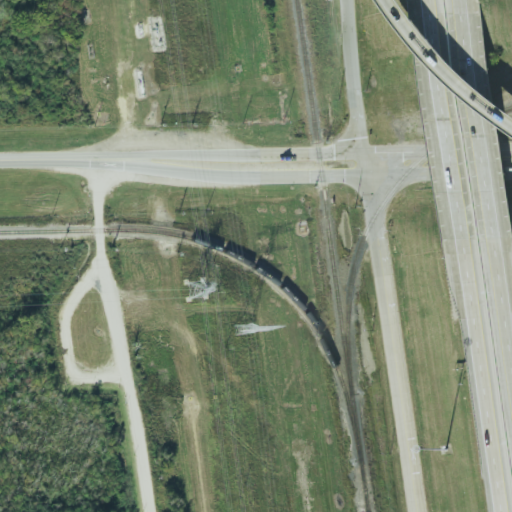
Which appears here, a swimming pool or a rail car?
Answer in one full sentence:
Looking from above, you can make out a rail car.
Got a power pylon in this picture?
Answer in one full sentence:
Yes, you can see a power pylon in this photo.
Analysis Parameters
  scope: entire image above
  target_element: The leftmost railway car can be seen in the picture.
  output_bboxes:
[196,236,227,253]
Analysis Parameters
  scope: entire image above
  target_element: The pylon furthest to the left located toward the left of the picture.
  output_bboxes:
[184,278,218,302]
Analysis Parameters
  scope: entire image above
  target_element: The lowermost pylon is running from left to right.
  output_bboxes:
[232,320,274,338]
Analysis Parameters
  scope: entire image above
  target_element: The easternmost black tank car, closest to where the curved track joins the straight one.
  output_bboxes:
[320,338,339,368]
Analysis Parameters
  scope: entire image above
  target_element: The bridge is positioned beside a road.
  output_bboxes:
[406,2,512,318]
